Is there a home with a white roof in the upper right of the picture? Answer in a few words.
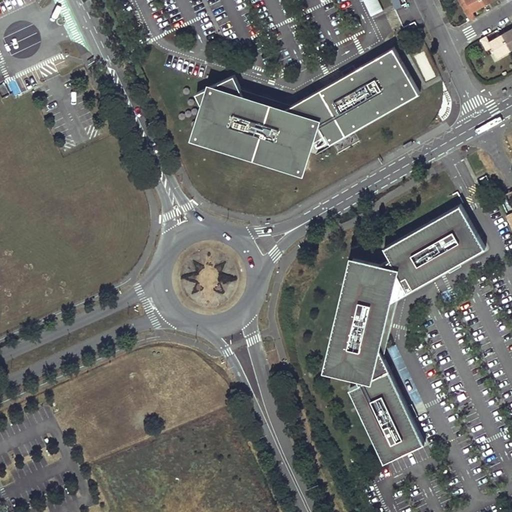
Yes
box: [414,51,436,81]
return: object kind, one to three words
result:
shed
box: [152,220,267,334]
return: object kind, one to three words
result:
roundabout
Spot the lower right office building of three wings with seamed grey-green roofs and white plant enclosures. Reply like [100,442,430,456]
[322,190,486,466]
